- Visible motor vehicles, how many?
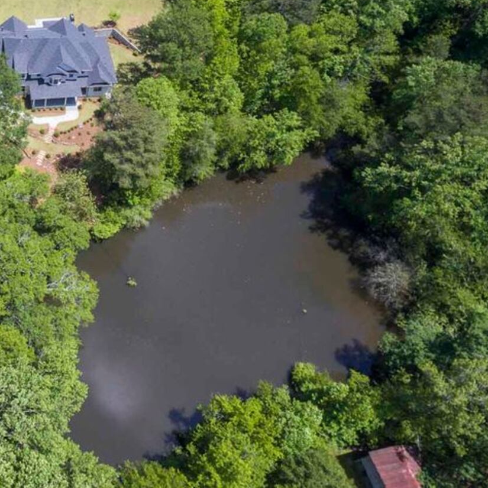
0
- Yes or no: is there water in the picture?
Yes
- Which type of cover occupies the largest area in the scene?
trees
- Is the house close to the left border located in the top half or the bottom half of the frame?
top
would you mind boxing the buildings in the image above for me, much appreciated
[355,441,443,488]
[0,9,115,110]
